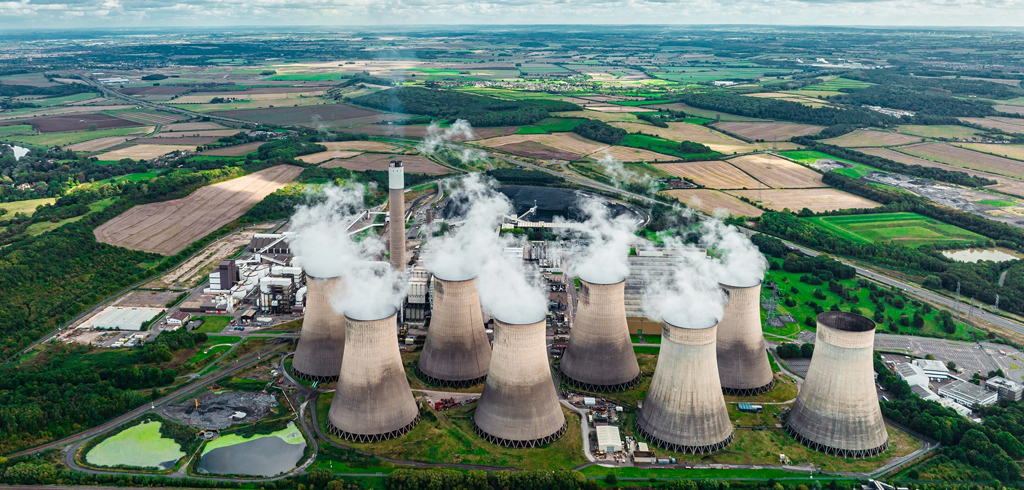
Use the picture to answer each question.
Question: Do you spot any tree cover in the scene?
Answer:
Yes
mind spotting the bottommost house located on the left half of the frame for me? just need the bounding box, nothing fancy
[183,427,227,443]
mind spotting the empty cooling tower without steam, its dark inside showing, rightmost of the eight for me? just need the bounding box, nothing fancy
[783,310,892,460]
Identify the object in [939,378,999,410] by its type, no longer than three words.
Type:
building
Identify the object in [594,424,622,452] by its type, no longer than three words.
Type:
building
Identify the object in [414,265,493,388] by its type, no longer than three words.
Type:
cooling tower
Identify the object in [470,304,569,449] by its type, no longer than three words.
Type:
cooling tower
